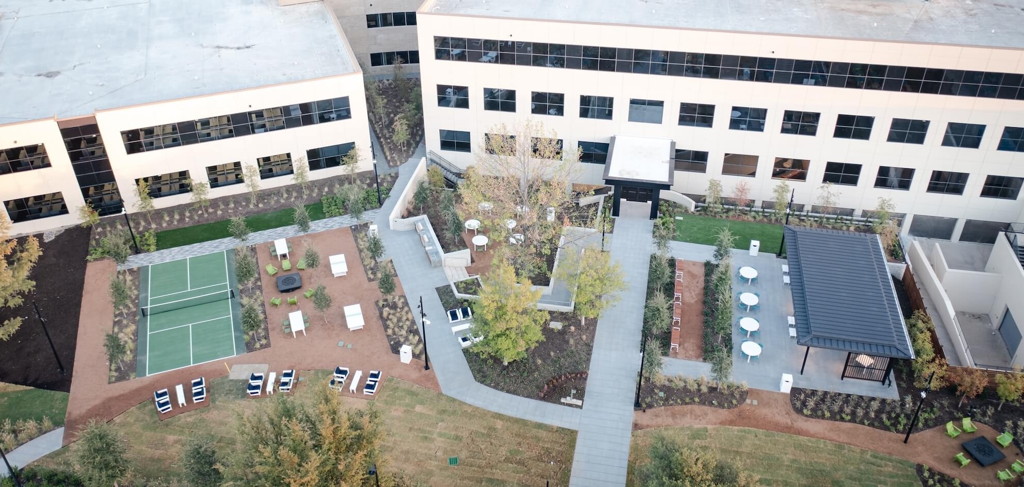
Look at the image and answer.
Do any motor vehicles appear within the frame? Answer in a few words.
No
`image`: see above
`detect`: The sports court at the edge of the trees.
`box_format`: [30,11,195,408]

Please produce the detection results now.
[148,250,234,374]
